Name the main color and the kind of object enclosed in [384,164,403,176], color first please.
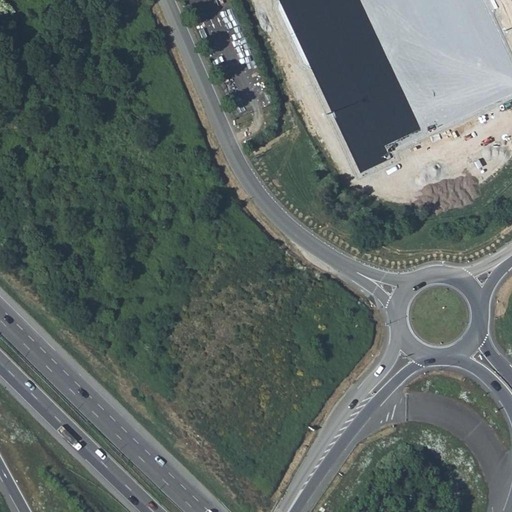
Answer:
white vehicle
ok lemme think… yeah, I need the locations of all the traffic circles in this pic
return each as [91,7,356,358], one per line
[385,266,490,367]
